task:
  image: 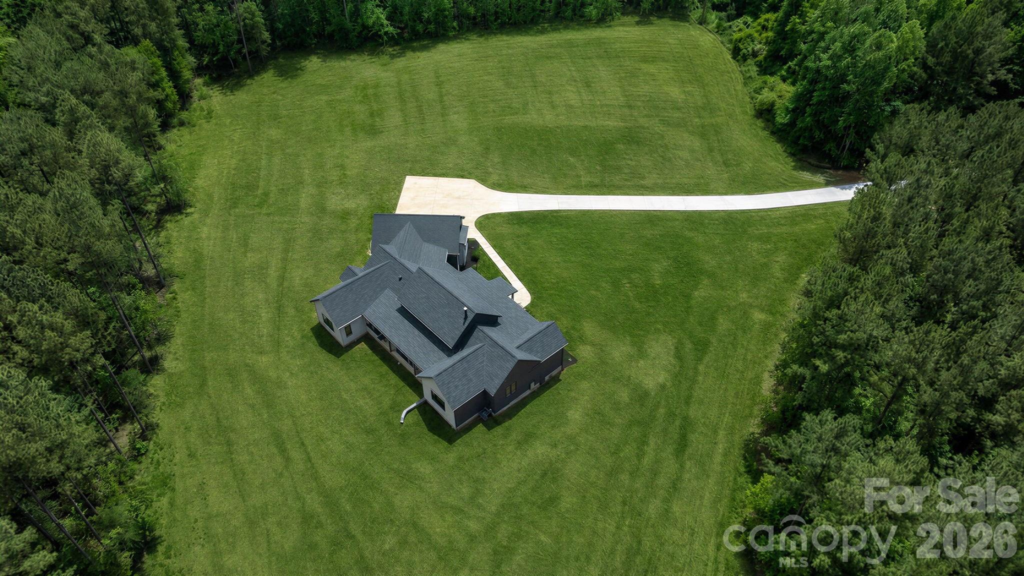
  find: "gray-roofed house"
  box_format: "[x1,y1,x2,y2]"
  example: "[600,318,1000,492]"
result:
[310,213,569,430]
